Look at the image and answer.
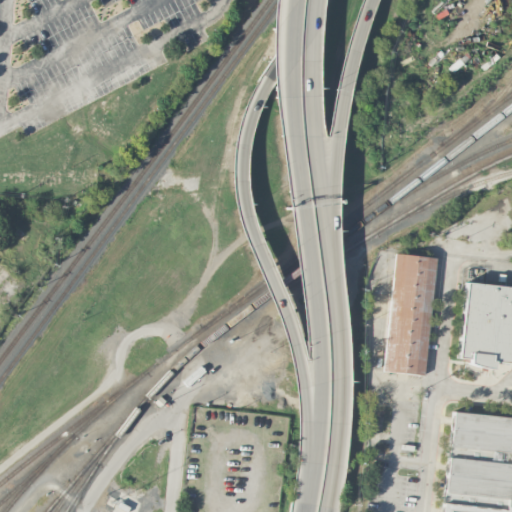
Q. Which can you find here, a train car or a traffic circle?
train car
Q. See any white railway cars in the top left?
No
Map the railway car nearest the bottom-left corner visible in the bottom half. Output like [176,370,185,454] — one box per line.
[114,406,142,438]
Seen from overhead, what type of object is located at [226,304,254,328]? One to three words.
rail car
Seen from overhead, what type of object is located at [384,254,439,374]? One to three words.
building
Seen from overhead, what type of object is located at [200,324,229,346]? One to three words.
rail car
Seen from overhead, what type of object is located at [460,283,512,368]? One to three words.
building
